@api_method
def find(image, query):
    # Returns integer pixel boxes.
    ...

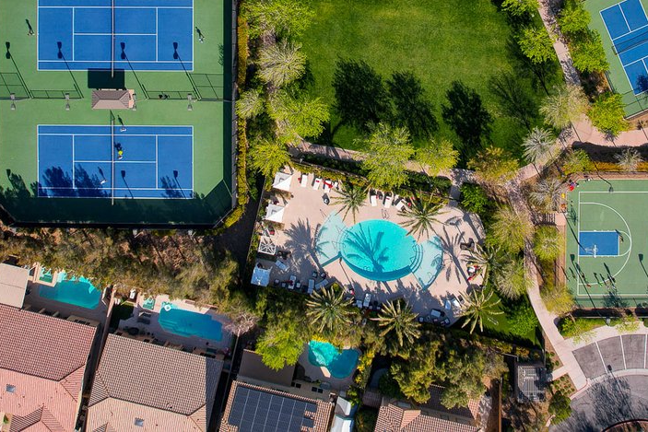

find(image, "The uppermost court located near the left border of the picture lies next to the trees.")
[0,0,235,98]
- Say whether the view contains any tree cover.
Yes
